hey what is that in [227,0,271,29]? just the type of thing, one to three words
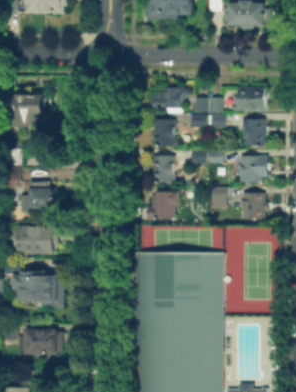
house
